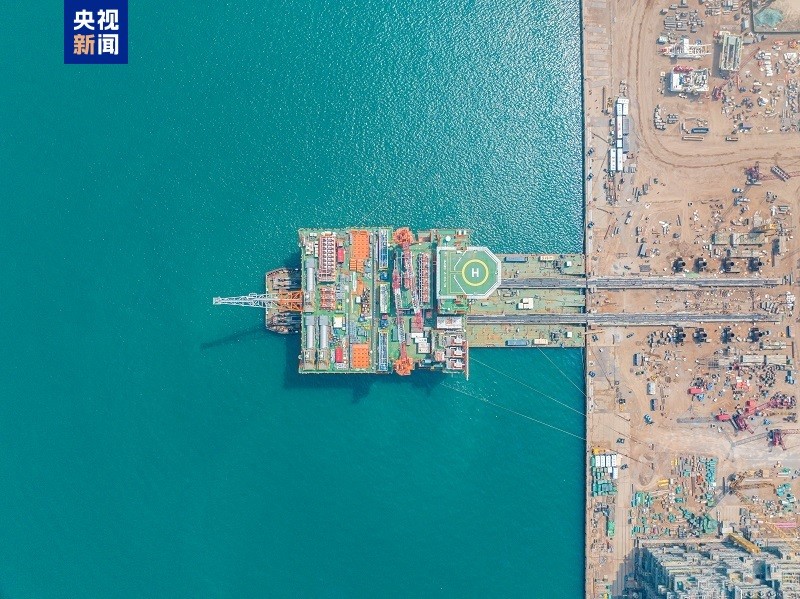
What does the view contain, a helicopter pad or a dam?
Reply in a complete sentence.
Visible in the photo is a helicopter pad.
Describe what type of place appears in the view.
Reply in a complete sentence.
This image shows a port.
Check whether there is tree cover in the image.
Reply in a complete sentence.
No, tree cover can't be seen anywhere here.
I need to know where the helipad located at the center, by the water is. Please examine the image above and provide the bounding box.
[437,244,501,302]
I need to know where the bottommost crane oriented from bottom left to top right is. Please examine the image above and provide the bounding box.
[726,387,790,434]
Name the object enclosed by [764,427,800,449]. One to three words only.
crane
